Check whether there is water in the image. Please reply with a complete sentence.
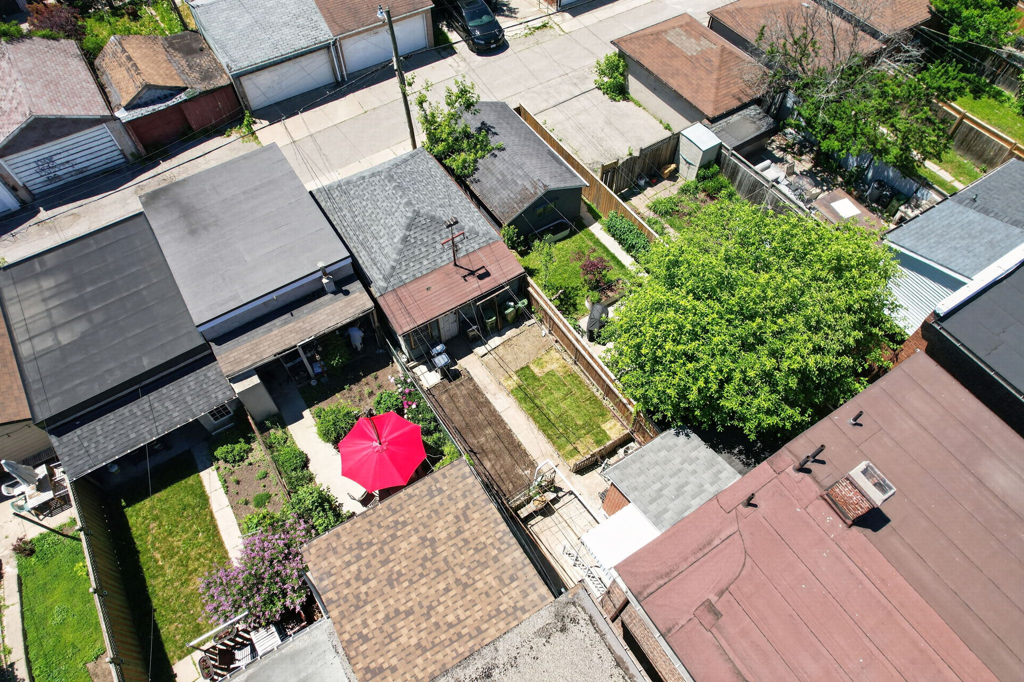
No, there's no water in this view.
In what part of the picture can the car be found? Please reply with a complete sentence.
You can find the car in the top area of the picture.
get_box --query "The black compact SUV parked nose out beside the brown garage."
[450,0,503,51]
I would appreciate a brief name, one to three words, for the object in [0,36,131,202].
building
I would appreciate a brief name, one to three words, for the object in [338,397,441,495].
umbrella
